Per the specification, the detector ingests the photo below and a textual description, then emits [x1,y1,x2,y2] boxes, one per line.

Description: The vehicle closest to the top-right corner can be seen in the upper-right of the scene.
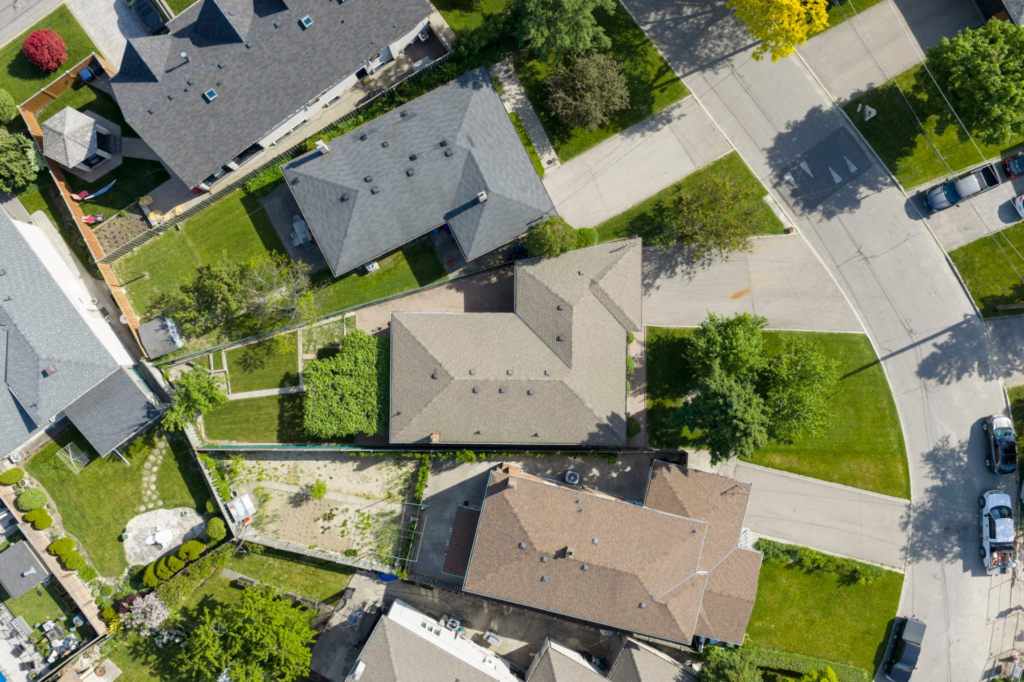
[997,149,1024,181]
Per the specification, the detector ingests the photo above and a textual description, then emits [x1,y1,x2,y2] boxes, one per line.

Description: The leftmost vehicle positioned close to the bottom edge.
[872,608,926,682]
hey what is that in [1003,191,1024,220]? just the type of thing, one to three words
car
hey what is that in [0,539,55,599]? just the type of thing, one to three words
shed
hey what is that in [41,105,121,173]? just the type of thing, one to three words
gazebo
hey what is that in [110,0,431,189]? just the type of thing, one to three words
house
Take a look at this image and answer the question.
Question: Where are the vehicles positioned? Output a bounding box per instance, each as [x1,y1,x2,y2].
[997,149,1024,181]
[130,0,179,35]
[1003,191,1024,220]
[918,161,1004,213]
[872,608,926,682]
[974,490,1018,575]
[978,411,1022,477]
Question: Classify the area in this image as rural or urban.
urban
